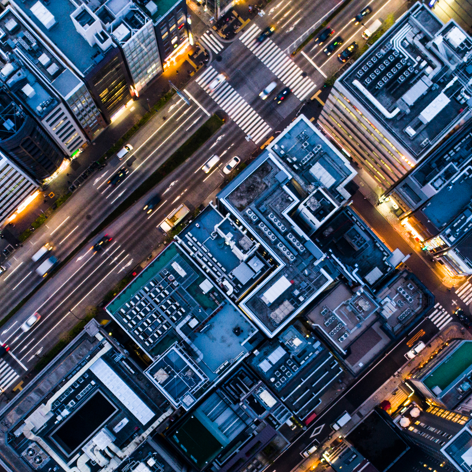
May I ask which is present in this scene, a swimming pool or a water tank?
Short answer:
water tank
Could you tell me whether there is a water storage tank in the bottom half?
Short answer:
Yes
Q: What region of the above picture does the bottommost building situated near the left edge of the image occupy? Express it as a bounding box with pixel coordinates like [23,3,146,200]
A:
[0,320,173,472]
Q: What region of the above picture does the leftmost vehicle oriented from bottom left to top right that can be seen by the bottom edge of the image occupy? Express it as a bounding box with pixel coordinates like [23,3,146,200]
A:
[302,443,319,460]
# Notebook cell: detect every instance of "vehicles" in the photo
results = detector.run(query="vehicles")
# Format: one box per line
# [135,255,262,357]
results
[360,14,384,41]
[330,411,353,430]
[0,345,9,358]
[259,82,276,99]
[302,443,319,460]
[111,167,128,186]
[324,38,343,55]
[33,245,51,262]
[94,233,111,251]
[256,27,274,44]
[144,195,162,212]
[284,418,297,431]
[274,87,292,104]
[407,342,425,359]
[316,28,333,45]
[202,155,220,173]
[455,309,472,327]
[34,254,59,278]
[353,6,371,24]
[203,77,220,95]
[161,204,189,231]
[24,311,41,328]
[0,264,8,276]
[224,156,242,174]
[115,143,134,161]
